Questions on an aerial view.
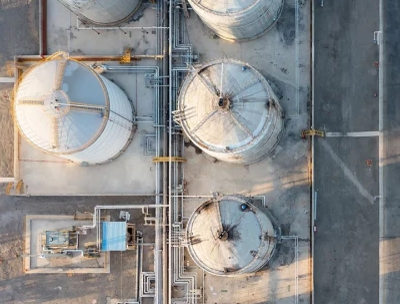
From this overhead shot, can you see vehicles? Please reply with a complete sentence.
No, there's no vehicle here.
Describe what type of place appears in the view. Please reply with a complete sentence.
The area seen from above is an industrial area.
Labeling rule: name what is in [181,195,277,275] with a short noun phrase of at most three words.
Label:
storage tank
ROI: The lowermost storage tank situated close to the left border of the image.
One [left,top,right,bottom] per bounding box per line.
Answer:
[12,54,138,164]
